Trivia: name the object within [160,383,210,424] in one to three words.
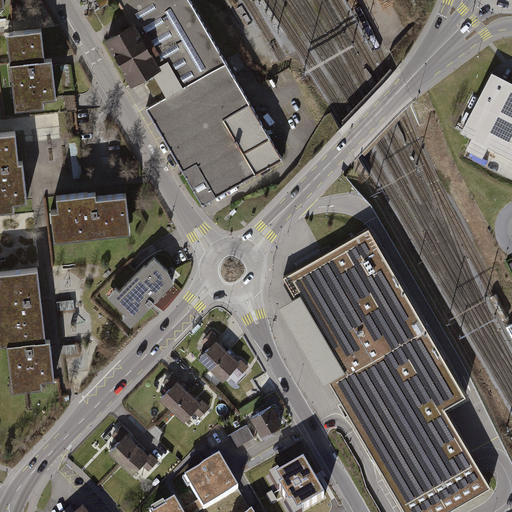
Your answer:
house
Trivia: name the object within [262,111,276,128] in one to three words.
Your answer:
vehicle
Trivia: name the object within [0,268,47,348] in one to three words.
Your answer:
building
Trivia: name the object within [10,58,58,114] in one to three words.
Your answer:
building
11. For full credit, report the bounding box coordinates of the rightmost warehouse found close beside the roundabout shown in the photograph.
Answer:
[284,230,489,512]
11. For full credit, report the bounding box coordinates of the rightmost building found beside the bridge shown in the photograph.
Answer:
[459,74,512,164]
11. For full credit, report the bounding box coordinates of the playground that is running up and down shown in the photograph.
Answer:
[53,265,96,392]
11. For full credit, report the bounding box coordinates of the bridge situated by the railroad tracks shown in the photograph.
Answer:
[318,60,437,180]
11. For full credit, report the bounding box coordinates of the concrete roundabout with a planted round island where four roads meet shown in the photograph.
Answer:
[184,222,275,316]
